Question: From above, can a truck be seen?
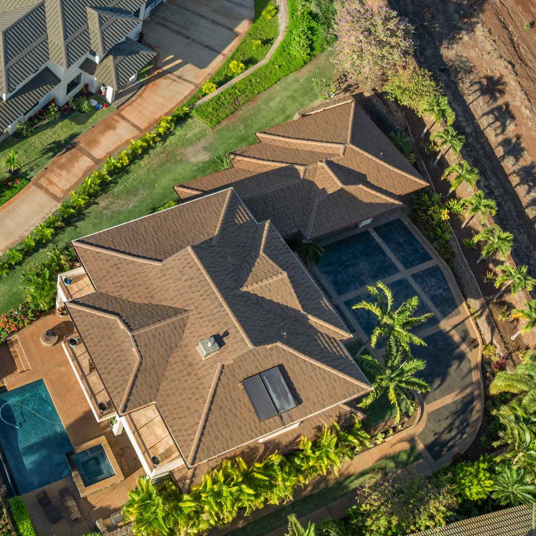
No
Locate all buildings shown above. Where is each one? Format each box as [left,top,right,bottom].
[56,98,431,495]
[0,0,166,136]
[405,501,536,536]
